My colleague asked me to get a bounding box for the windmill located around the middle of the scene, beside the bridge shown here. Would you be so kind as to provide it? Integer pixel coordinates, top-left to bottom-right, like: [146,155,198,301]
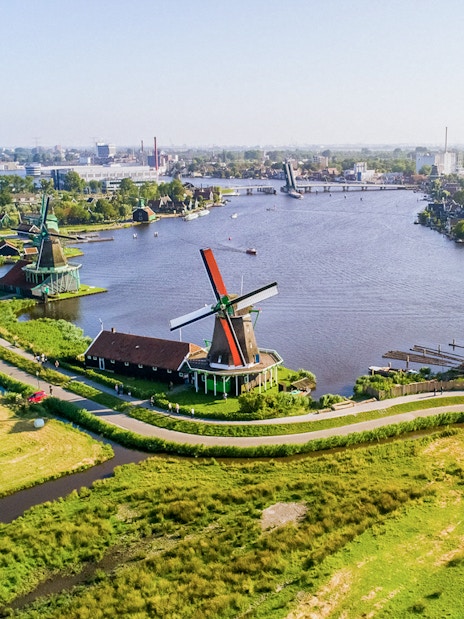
[170,245,282,398]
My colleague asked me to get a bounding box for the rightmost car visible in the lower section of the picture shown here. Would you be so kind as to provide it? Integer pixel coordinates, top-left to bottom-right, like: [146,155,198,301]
[24,389,48,403]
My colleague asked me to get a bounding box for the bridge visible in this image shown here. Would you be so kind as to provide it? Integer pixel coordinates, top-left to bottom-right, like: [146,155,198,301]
[210,158,421,196]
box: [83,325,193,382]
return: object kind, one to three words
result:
house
